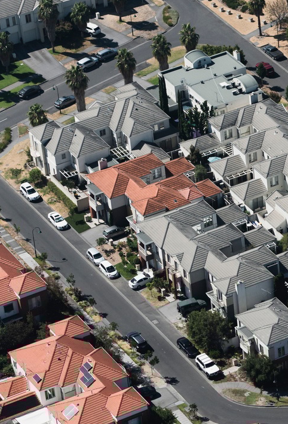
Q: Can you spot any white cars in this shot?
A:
Yes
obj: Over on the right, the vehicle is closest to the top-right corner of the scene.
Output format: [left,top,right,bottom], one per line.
[262,43,285,58]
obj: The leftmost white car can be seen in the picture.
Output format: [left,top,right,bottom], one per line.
[19,179,42,199]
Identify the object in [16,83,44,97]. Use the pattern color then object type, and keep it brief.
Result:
black vehicle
